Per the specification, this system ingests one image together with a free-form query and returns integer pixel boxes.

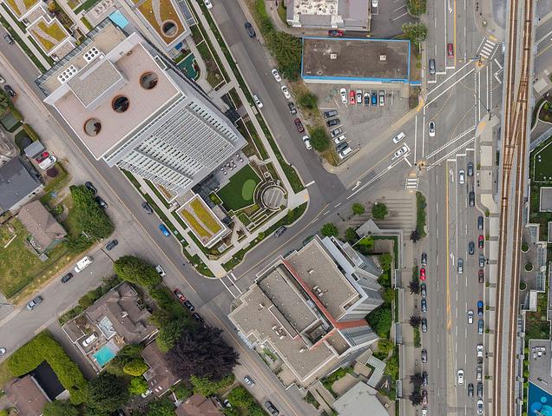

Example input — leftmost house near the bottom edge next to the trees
[5,363,73,416]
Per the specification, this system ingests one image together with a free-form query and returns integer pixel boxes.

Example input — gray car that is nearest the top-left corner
[2,31,16,47]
